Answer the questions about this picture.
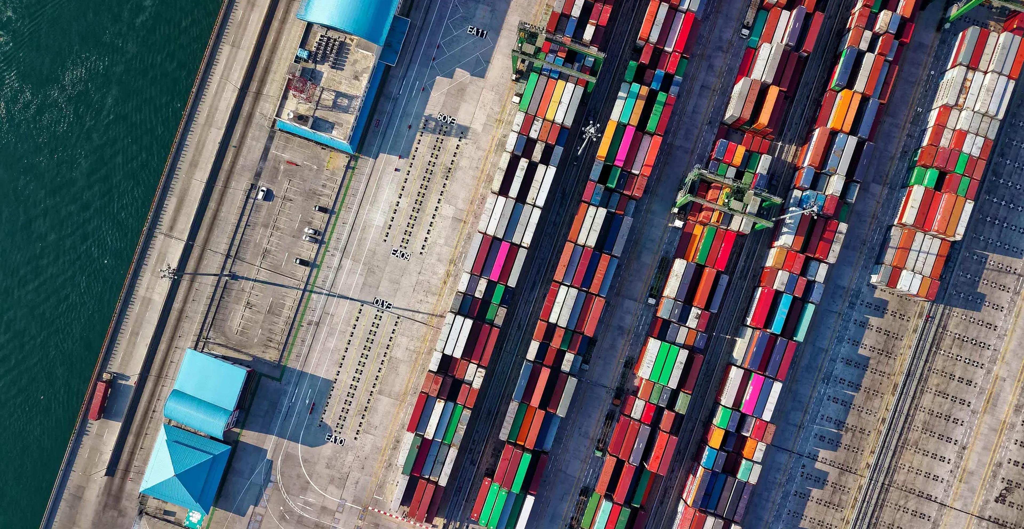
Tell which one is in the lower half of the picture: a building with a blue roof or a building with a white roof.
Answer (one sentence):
There is a building with a blue roof in the lower half of the picture.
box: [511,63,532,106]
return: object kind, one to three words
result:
truck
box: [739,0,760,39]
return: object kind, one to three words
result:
truck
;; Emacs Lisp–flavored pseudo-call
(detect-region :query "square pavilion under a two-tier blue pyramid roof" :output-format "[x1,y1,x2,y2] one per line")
[139,423,231,515]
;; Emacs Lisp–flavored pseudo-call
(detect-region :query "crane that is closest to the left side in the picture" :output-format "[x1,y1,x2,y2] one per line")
[509,23,610,105]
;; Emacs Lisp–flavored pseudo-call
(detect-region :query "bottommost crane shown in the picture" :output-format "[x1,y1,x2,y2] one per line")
[674,165,791,237]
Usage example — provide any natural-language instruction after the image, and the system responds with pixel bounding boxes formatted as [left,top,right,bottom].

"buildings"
[275,13,412,155]
[164,347,257,439]
[139,423,231,515]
